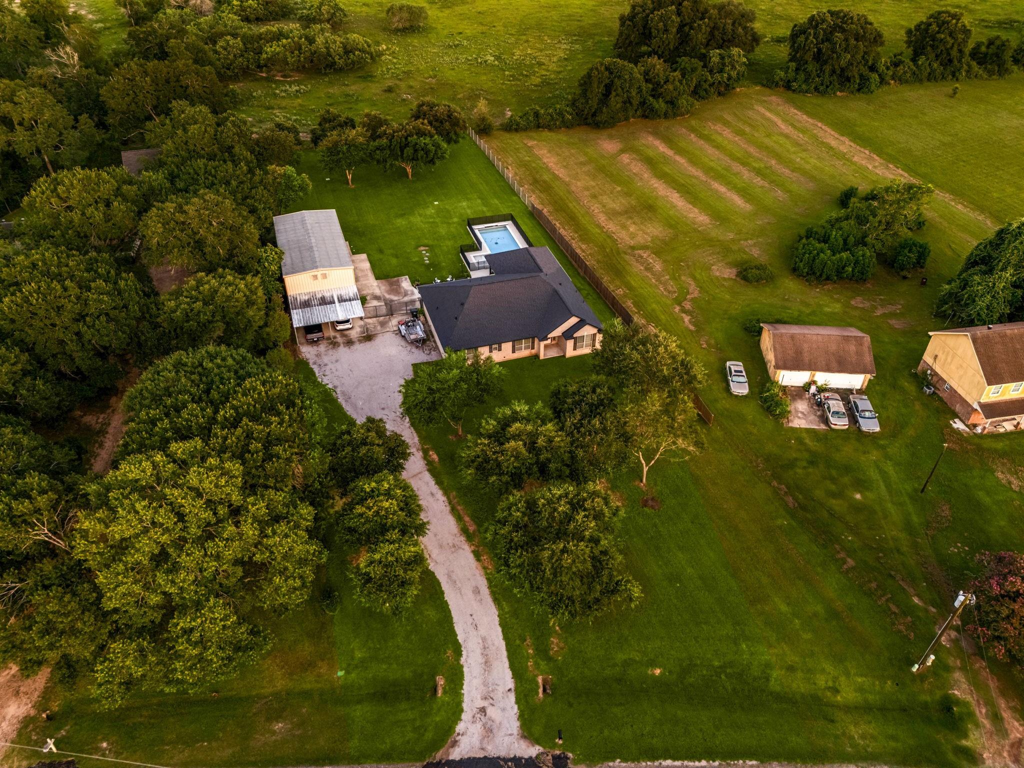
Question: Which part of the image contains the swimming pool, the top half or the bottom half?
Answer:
top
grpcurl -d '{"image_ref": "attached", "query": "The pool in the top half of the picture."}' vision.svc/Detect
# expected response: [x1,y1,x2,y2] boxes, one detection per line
[459,220,533,280]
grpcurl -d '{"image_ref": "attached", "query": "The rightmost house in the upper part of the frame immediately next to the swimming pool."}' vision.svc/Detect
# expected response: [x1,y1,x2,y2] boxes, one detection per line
[418,248,604,365]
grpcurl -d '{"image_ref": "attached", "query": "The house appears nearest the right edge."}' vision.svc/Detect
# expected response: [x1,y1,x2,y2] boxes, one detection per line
[917,322,1024,436]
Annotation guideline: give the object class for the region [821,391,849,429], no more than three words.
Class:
car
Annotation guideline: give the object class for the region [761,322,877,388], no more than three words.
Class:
building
